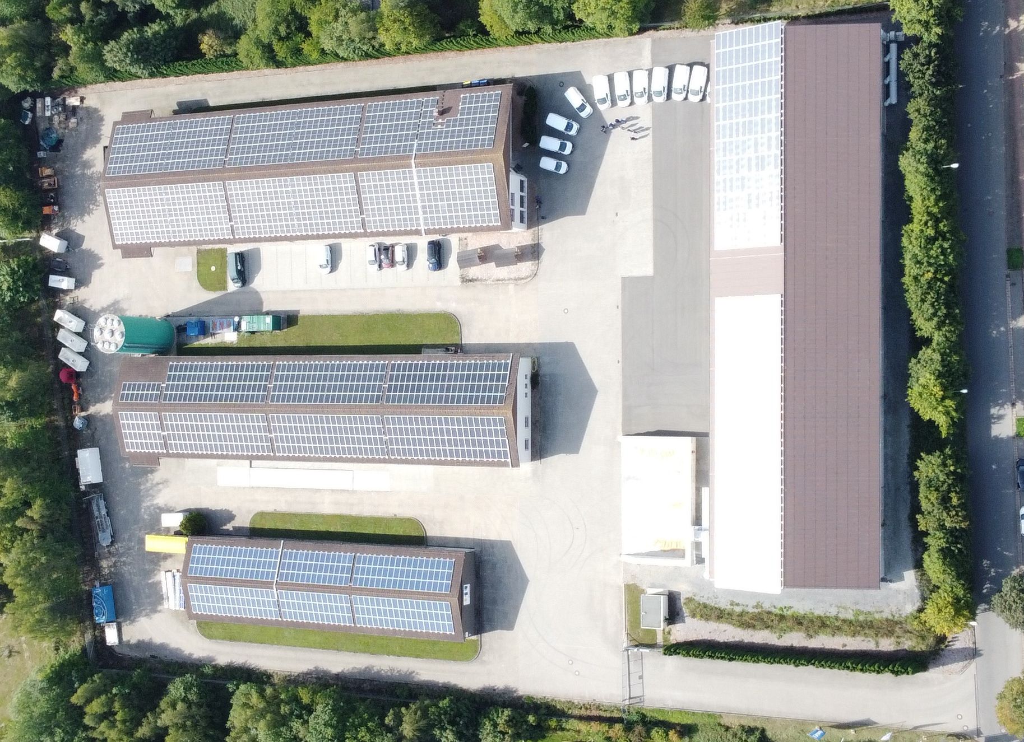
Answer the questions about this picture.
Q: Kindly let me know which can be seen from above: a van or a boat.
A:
van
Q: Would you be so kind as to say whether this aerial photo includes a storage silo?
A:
Yes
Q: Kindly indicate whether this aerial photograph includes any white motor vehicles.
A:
Yes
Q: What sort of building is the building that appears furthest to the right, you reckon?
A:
warehouse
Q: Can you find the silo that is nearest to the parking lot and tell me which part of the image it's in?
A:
left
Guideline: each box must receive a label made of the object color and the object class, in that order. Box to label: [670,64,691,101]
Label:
white vehicle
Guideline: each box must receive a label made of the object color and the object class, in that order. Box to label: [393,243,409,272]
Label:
white car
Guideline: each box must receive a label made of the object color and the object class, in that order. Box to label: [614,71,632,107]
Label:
white vehicle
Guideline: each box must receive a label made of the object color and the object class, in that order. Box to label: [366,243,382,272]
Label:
white car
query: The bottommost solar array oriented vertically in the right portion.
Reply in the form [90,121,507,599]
[715,294,780,594]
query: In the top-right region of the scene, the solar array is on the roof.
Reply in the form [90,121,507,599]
[714,21,780,250]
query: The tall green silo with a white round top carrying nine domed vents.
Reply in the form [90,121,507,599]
[84,313,178,355]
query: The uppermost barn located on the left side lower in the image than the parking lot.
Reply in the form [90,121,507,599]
[111,353,531,468]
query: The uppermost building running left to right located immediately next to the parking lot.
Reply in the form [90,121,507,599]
[100,83,527,257]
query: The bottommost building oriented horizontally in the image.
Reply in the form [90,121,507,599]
[181,535,475,643]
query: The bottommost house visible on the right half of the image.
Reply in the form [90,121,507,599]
[641,583,672,630]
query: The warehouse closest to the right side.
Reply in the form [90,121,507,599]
[709,20,892,595]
